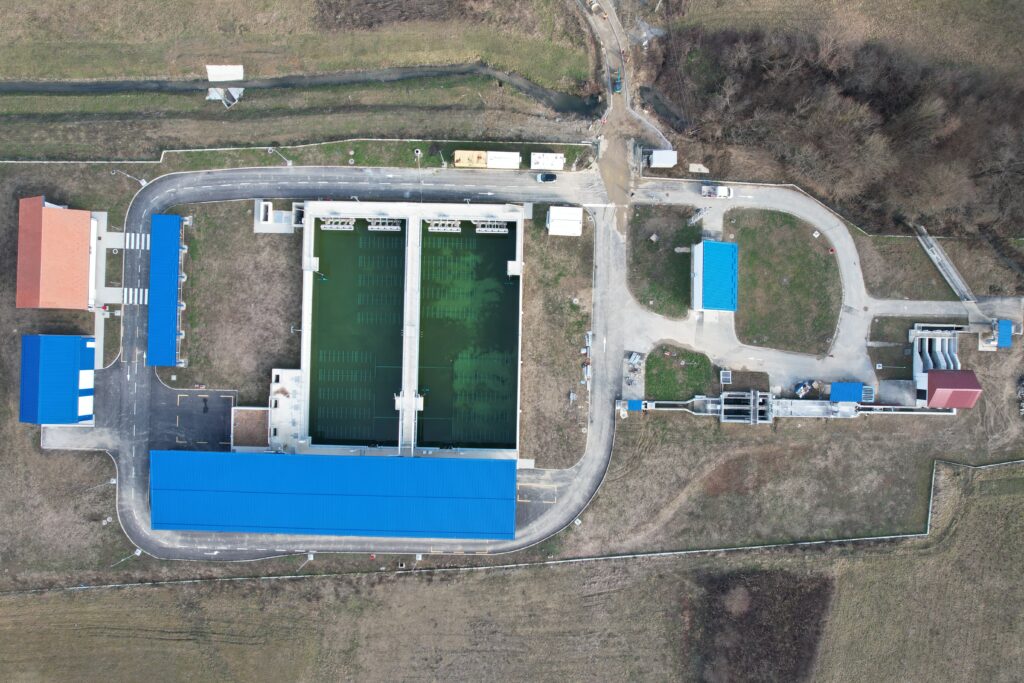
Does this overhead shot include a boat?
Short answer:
No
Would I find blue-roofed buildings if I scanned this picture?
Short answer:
Yes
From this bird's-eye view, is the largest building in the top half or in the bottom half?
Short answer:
bottom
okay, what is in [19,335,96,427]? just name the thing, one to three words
building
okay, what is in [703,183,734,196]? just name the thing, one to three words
vehicle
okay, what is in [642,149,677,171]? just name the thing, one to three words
shed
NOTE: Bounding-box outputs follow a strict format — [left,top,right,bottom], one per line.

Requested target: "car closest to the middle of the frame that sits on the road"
[537,171,558,183]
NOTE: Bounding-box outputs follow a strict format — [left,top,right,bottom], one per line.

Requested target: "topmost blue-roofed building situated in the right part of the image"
[675,240,737,319]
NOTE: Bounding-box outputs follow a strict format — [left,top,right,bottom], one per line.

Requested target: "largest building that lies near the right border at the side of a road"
[905,323,983,409]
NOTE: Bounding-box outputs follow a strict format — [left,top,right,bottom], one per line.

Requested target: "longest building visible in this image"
[150,448,517,541]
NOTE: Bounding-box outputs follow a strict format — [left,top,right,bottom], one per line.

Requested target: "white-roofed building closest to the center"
[546,206,583,239]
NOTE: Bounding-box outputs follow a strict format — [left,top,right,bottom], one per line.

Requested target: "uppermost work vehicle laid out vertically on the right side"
[612,63,624,96]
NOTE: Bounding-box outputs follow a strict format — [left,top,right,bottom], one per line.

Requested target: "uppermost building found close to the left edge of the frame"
[16,196,103,309]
